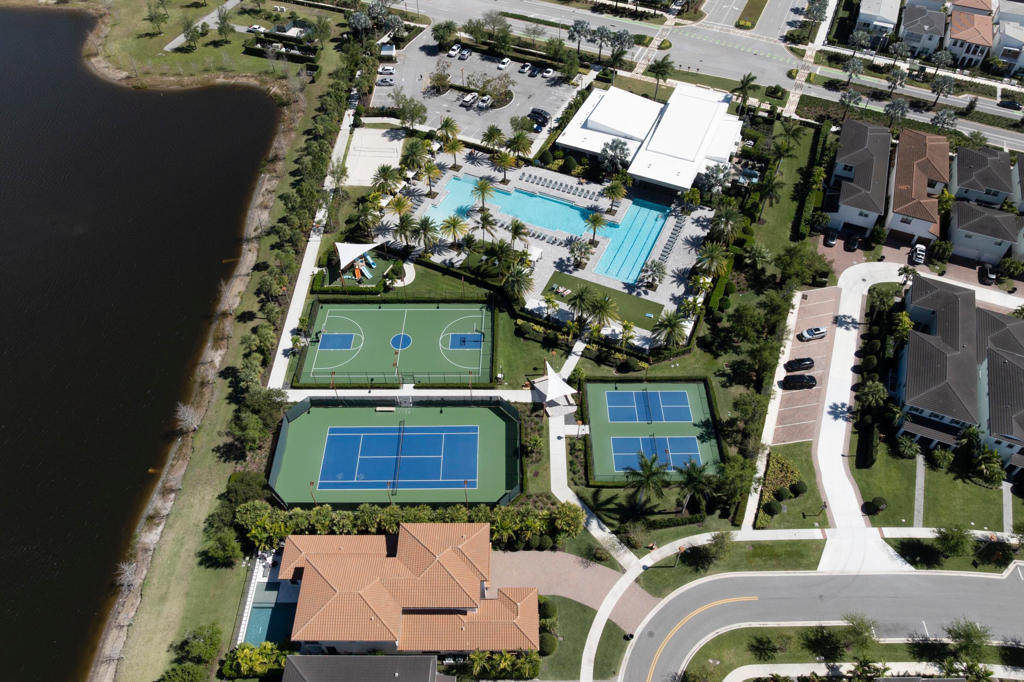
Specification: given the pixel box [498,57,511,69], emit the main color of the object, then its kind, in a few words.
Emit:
white vehicle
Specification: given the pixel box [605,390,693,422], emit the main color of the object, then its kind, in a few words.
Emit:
blue sports court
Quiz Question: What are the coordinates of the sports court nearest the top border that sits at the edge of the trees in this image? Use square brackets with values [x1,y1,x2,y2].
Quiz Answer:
[343,128,406,185]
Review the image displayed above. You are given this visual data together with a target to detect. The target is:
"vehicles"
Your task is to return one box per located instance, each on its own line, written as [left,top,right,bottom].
[479,95,492,108]
[462,92,480,105]
[459,49,473,59]
[377,65,396,75]
[524,123,545,134]
[541,67,555,78]
[448,43,462,56]
[246,24,266,33]
[785,358,816,373]
[498,57,511,69]
[519,61,533,73]
[529,64,544,77]
[912,243,928,264]
[530,106,551,119]
[530,113,549,127]
[981,263,998,285]
[999,100,1022,110]
[825,228,840,247]
[783,374,818,390]
[375,78,395,86]
[800,325,829,342]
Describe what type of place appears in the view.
residential area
